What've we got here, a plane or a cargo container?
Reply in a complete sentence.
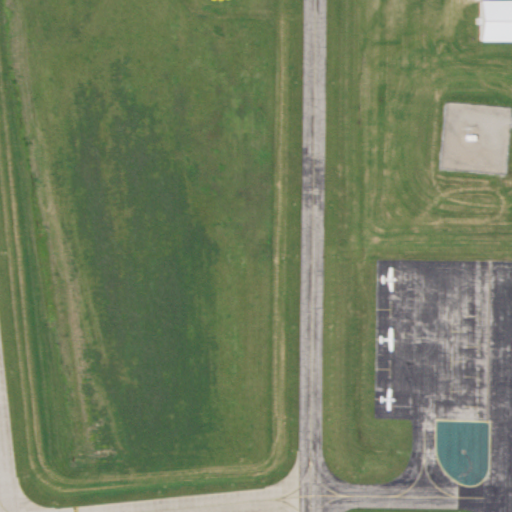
Of the two, only a plane appears.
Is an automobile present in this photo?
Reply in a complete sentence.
No, no automobile can be seen from above.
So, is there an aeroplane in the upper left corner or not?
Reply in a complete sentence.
No, no aeroplane can be made out in the upper left corner.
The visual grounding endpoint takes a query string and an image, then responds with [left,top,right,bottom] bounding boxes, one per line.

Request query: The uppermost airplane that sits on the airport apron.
[381,266,398,293]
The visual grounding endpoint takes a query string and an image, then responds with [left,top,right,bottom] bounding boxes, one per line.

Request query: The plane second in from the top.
[379,327,398,354]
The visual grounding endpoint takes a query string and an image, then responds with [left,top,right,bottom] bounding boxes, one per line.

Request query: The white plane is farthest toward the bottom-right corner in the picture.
[380,388,396,412]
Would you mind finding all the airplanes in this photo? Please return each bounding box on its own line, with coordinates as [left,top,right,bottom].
[380,388,396,412]
[379,327,398,354]
[381,266,398,293]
